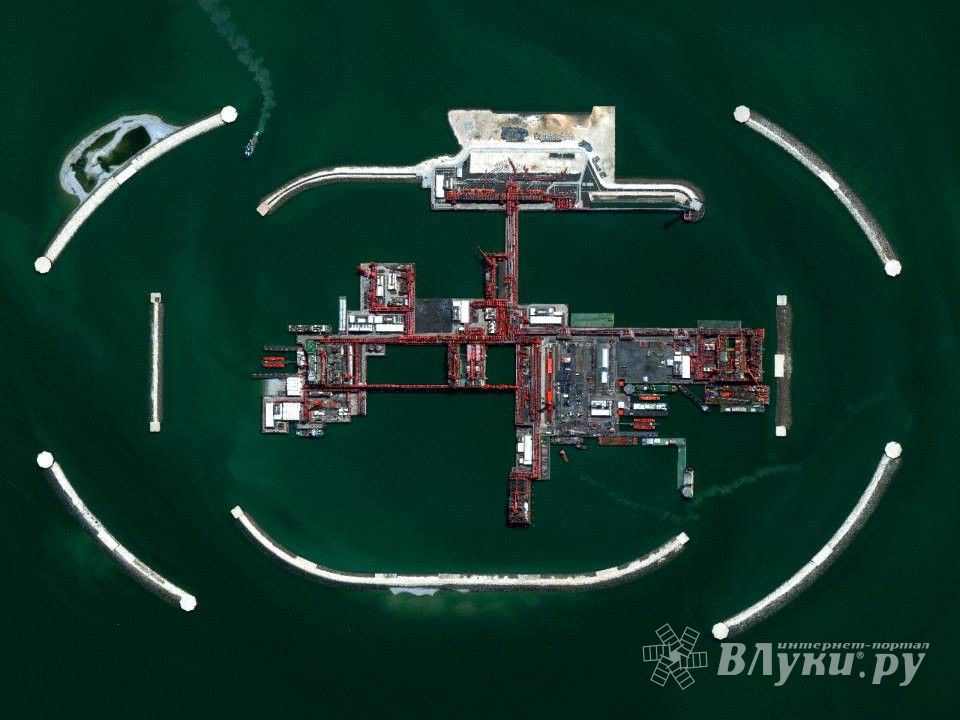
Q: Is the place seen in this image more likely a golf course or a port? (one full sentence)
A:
The picture captures a port.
